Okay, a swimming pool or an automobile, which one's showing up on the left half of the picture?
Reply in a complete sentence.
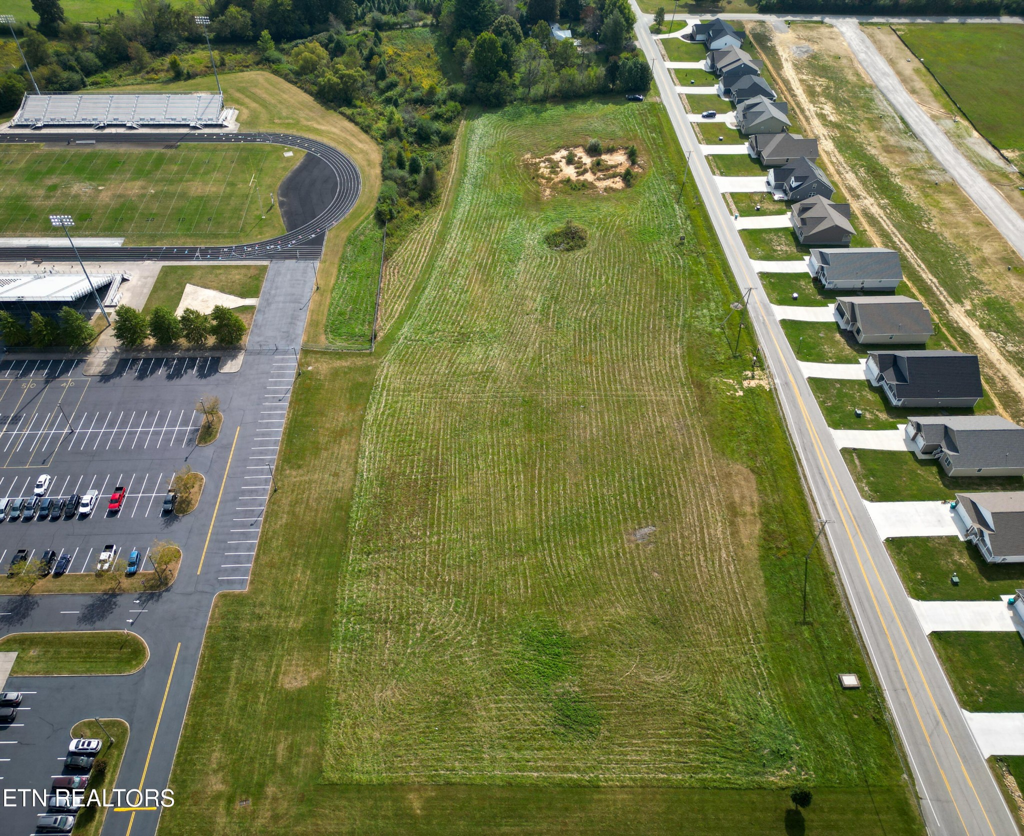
It is an automobile that can be seen on the left half of the picture.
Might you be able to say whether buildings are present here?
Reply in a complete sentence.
Yes, the picture does show a building.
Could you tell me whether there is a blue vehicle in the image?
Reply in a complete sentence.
Yes, there is a blue vehicle in the image.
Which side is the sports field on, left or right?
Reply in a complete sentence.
The sports field is on the left side of the image.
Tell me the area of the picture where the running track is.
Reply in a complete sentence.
The running track appears toward the top left of the photo.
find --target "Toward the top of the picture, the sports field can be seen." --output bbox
[0,143,306,248]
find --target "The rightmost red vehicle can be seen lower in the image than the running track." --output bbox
[108,487,125,511]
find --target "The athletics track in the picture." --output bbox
[0,133,360,261]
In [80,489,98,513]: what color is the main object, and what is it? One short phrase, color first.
white vehicle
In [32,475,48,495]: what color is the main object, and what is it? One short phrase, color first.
white car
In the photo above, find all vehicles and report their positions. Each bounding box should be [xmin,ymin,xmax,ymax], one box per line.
[52,774,87,791]
[54,553,71,576]
[47,794,82,811]
[22,495,40,516]
[64,494,80,514]
[702,110,716,117]
[50,499,66,517]
[108,487,125,511]
[161,489,177,513]
[0,691,23,706]
[69,738,102,754]
[0,707,18,722]
[37,814,73,832]
[39,550,57,573]
[80,489,98,513]
[96,545,115,572]
[38,498,53,517]
[32,475,48,495]
[63,754,96,769]
[7,497,26,519]
[0,497,13,519]
[124,551,140,573]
